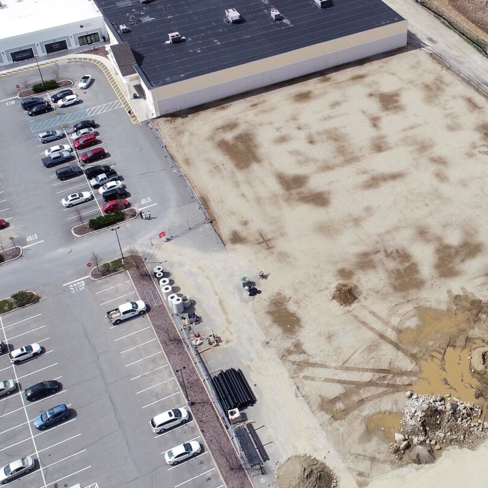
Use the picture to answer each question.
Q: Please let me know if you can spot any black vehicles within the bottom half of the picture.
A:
Yes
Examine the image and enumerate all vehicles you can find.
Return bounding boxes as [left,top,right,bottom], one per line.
[102,200,131,213]
[0,457,36,485]
[19,96,48,111]
[78,76,92,90]
[57,94,82,108]
[7,343,44,365]
[0,379,17,397]
[101,187,131,203]
[53,166,84,183]
[33,404,71,431]
[50,90,74,103]
[81,148,107,163]
[26,381,61,404]
[61,193,92,208]
[0,336,7,354]
[89,171,121,190]
[96,180,125,195]
[74,134,99,150]
[71,127,96,141]
[71,119,98,133]
[28,104,54,117]
[149,409,190,436]
[37,131,64,144]
[44,144,71,155]
[37,150,73,167]
[162,441,203,468]
[84,165,112,180]
[106,302,148,326]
